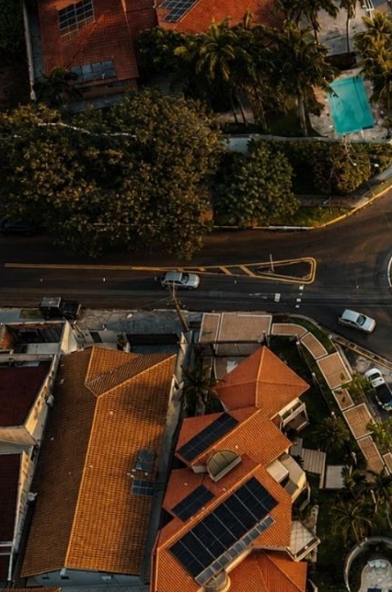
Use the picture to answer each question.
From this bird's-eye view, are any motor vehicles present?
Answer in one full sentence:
Yes, a motor vehicle appears in the view.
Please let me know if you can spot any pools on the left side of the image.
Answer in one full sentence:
No, on the left side of the image there is no pool.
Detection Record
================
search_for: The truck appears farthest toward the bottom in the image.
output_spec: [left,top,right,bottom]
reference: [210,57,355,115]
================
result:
[366,368,392,412]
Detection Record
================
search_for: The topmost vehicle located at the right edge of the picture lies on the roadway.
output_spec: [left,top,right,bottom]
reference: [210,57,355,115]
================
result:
[337,305,377,334]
